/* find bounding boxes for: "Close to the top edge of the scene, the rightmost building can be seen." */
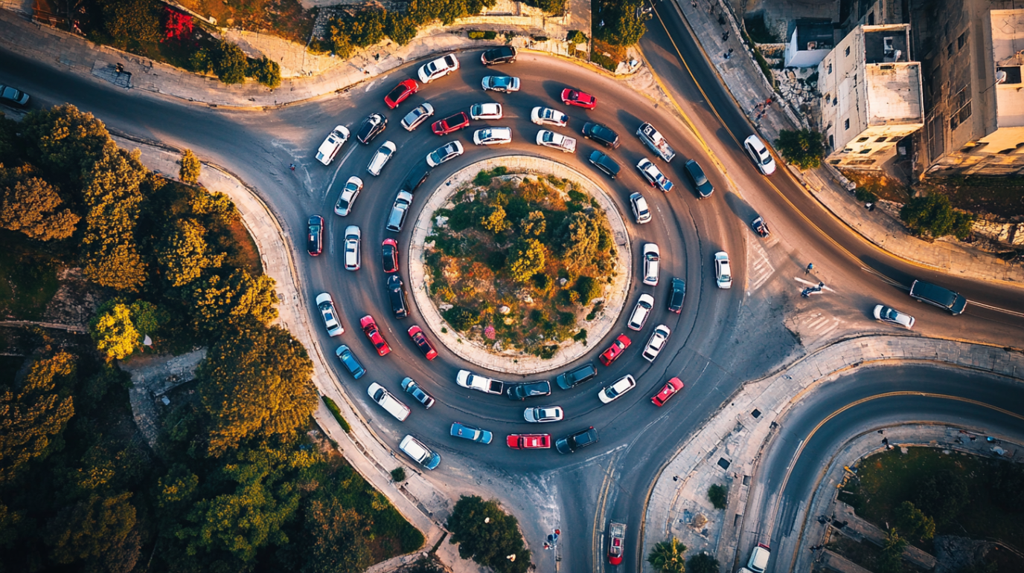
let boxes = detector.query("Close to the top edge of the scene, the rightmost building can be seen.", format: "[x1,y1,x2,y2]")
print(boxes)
[921,0,1024,169]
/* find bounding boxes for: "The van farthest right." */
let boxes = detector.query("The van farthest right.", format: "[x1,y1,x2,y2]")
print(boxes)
[906,280,967,313]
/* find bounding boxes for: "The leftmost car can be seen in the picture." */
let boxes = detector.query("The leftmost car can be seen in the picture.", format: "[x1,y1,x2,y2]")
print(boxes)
[0,82,33,107]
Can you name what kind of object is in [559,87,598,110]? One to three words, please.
car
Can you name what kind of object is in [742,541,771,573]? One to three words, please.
van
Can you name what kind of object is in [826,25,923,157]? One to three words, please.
house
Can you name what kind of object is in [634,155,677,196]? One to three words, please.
truck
